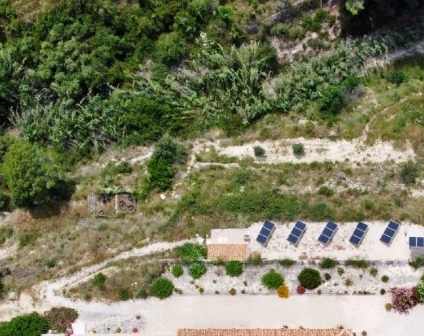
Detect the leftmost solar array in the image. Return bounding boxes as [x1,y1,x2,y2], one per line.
[256,222,276,246]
